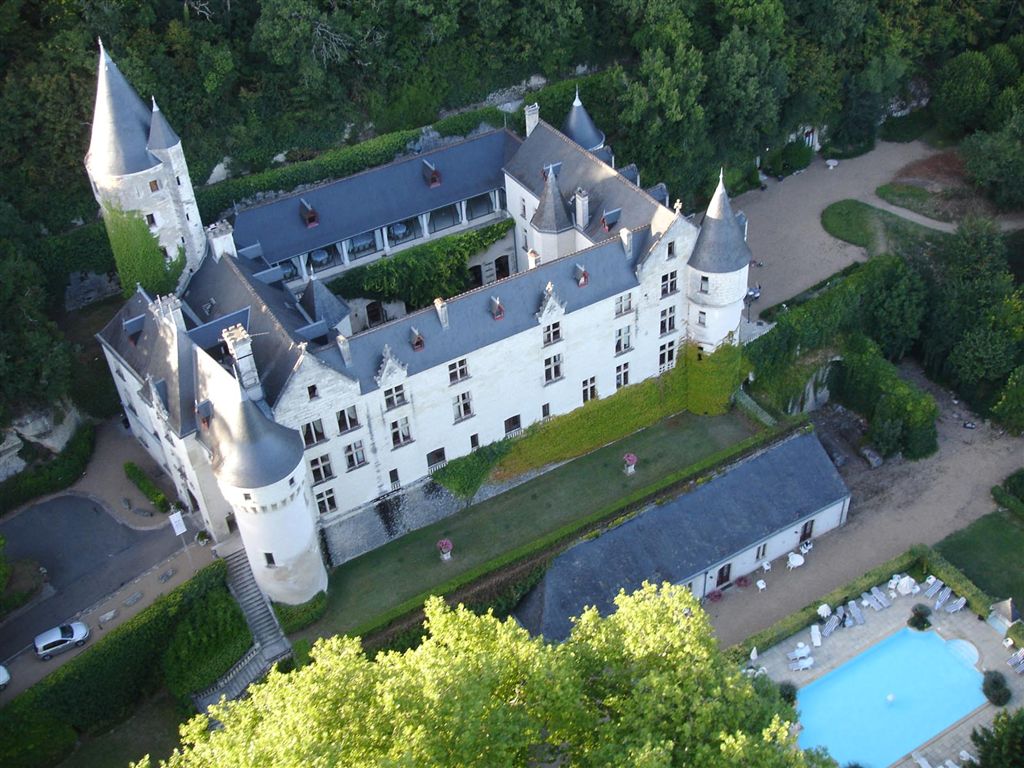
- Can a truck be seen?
No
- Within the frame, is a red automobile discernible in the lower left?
No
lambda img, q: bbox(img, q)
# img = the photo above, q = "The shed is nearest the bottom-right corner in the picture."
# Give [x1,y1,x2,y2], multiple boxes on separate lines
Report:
[991,595,1024,625]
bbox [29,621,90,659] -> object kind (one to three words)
car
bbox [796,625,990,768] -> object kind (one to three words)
swimming pool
